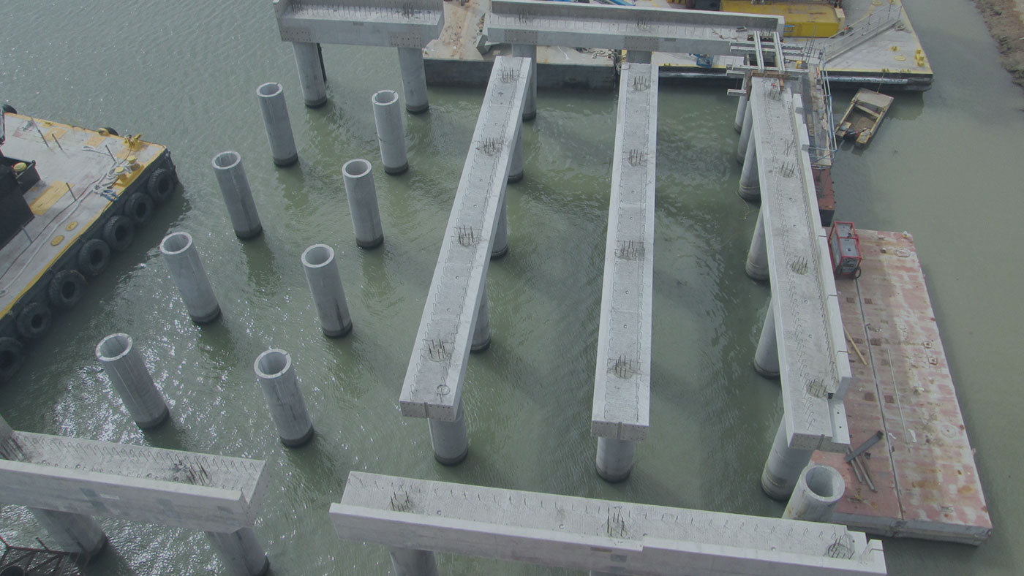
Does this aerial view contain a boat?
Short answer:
Yes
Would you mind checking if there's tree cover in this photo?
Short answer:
No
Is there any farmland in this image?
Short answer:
No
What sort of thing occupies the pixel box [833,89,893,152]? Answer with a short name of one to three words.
boat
